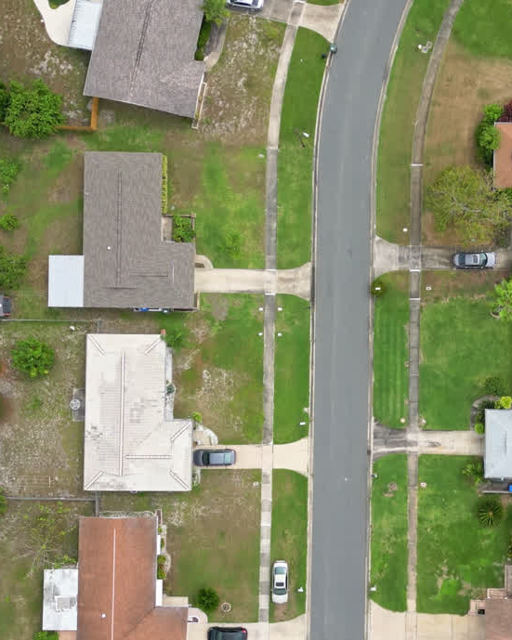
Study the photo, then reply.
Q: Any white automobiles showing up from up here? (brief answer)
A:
Yes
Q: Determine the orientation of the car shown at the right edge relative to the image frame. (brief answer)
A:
from side to side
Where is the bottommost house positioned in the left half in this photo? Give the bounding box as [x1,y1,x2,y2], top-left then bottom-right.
[43,515,190,640]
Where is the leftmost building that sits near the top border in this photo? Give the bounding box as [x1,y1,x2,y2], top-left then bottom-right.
[68,0,208,118]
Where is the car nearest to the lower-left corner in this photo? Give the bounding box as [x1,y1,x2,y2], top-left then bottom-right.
[207,623,250,640]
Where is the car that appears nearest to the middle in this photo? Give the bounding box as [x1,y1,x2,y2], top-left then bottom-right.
[194,447,237,467]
